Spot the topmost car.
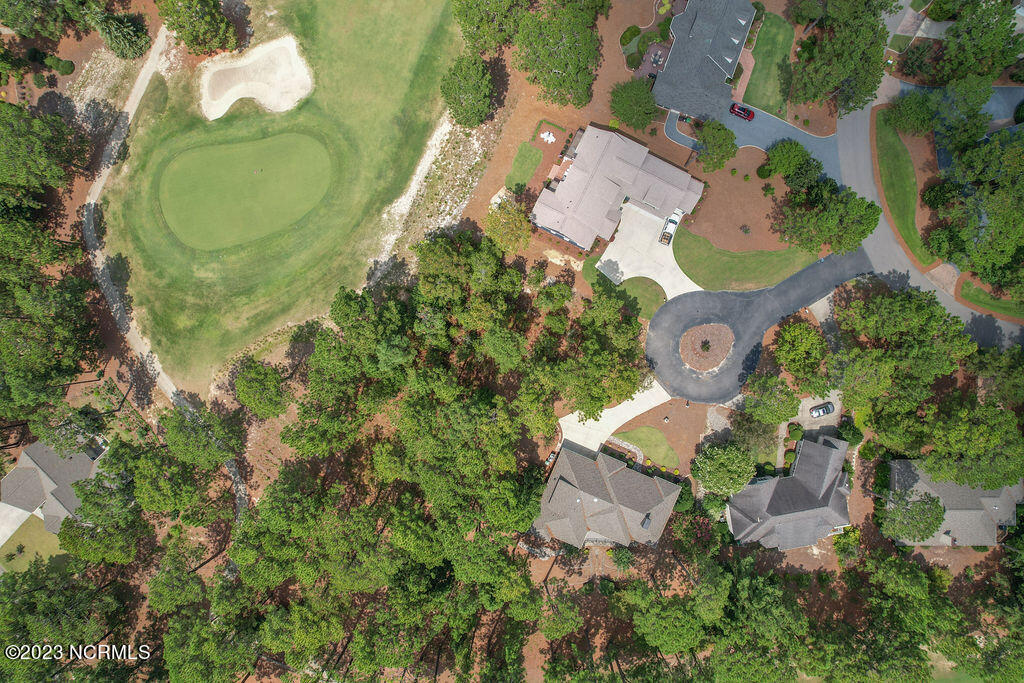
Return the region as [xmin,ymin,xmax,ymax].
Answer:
[730,102,756,121]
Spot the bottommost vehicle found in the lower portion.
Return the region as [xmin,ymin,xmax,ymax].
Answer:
[809,401,839,420]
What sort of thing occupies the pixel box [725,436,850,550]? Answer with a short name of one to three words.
house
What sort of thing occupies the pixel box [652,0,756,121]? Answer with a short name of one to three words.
house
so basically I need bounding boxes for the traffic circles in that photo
[646,246,874,404]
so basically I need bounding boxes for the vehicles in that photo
[809,401,839,420]
[730,102,756,121]
[657,209,684,248]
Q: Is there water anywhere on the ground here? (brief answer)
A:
No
